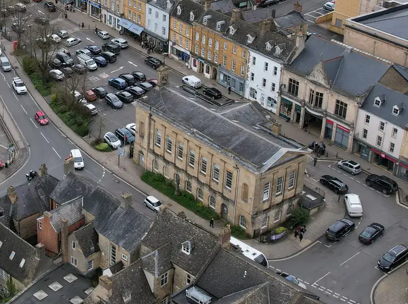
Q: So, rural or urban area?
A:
urban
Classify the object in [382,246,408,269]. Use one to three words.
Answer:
car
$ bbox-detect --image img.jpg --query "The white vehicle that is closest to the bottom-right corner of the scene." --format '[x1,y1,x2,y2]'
[346,195,364,217]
